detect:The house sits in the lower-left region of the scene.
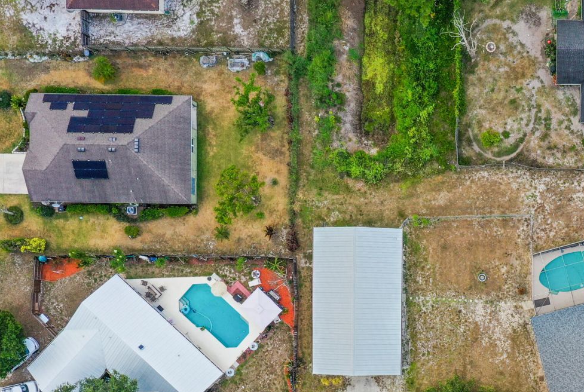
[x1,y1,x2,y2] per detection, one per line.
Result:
[27,274,225,392]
